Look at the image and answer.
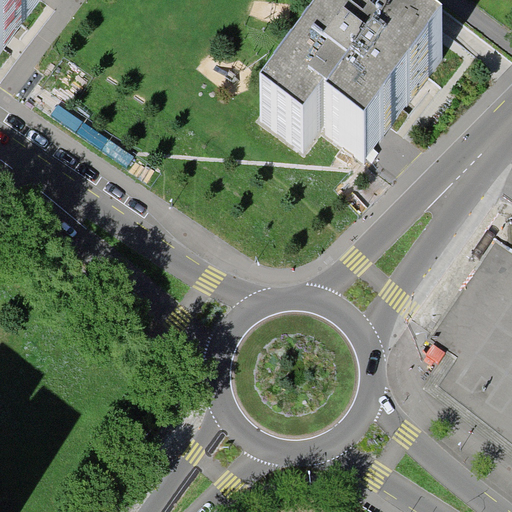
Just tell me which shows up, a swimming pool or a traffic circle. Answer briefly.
traffic circle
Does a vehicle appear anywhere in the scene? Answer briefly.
Yes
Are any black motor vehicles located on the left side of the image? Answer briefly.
Yes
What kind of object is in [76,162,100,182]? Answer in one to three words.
car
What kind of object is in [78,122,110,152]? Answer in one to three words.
shed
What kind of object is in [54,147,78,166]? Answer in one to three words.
car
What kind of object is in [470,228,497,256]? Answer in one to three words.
truck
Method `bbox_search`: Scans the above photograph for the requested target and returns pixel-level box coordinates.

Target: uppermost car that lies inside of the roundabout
[366,350,380,375]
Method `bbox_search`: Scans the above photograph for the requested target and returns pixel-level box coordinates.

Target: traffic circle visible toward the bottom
[204,282,388,466]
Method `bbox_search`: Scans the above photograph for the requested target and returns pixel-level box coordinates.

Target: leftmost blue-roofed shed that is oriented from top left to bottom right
[52,106,84,134]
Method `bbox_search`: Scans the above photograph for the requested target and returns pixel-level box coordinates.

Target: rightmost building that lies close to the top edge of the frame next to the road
[260,0,442,166]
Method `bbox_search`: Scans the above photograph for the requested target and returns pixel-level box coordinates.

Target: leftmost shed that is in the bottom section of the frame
[418,345,444,368]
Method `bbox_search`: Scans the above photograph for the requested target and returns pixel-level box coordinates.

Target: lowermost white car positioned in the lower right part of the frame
[378,394,396,416]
